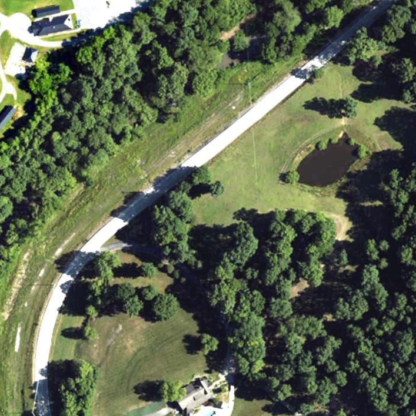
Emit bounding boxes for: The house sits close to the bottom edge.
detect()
[180,383,213,411]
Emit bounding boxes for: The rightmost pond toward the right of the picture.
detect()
[298,136,359,186]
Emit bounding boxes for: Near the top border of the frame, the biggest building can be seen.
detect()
[31,14,74,37]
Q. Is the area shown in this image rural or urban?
rural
